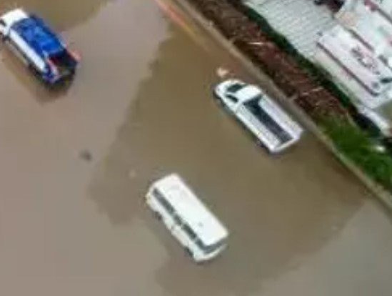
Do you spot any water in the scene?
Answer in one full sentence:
Yes, water can be seen from above here.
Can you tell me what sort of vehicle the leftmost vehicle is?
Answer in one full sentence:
The leftmost vehicle can be classified as a truck.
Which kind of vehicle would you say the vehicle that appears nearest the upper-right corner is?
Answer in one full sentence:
I'd identify the vehicle that appears nearest the upper-right corner as a truck.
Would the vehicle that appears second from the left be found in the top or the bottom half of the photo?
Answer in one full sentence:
You can find the vehicle that appears second from the left in the bottom half.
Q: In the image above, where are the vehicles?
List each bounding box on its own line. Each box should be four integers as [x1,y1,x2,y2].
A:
[145,179,224,261]
[2,14,77,92]
[221,84,302,154]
